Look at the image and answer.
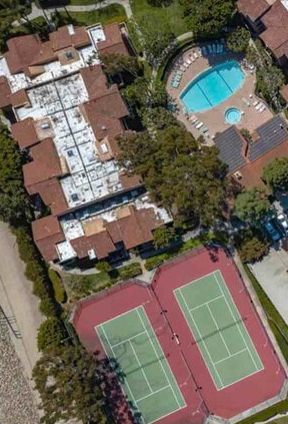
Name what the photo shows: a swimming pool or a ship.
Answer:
swimming pool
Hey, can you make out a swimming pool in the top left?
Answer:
No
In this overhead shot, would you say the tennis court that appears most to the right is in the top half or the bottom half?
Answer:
bottom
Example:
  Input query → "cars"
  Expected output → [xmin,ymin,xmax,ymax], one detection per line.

[263,220,282,242]
[275,214,288,234]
